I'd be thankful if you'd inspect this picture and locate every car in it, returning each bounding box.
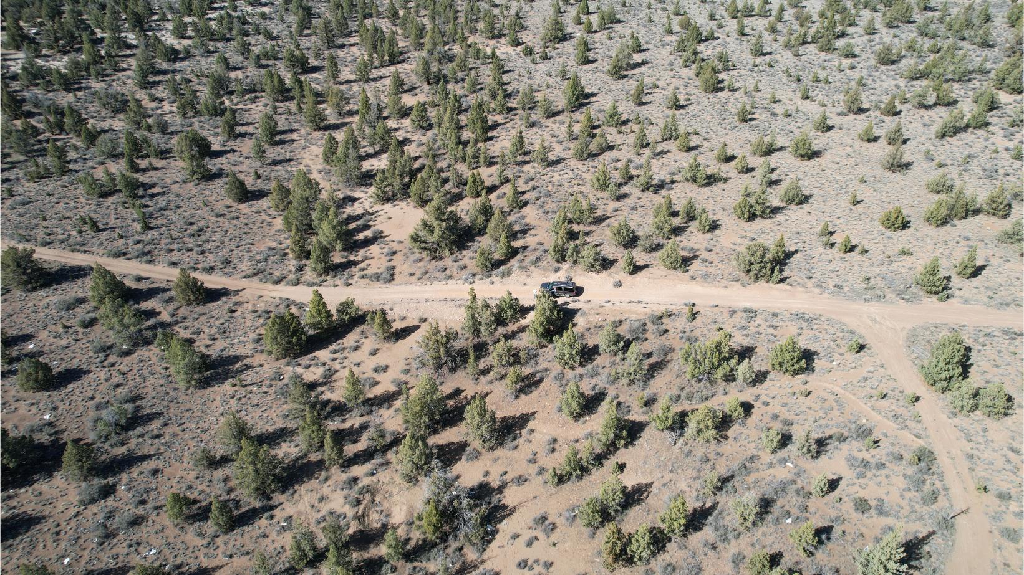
[539,279,578,296]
